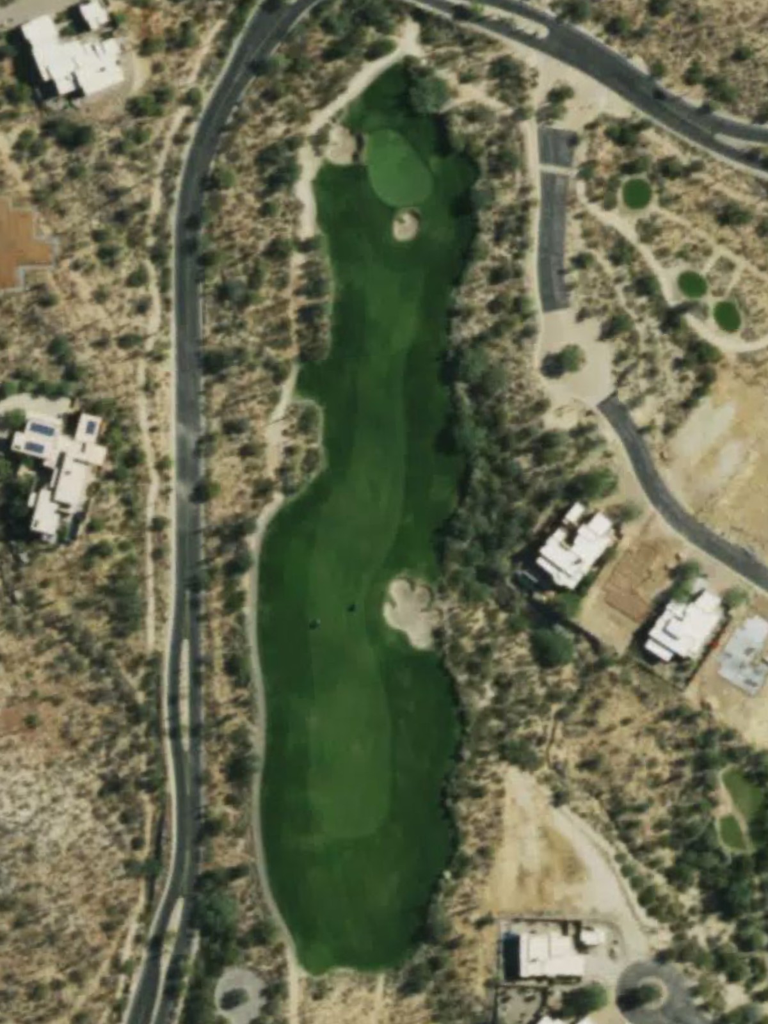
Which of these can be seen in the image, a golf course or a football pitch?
golf course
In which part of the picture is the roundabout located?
bottom right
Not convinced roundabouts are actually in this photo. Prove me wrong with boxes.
[615,959,713,1024]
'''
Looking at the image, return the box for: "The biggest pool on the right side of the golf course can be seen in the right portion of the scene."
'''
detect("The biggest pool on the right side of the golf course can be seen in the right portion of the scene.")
[502,929,519,981]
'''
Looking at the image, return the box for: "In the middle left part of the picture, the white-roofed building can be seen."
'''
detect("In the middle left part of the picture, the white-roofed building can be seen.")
[10,412,108,543]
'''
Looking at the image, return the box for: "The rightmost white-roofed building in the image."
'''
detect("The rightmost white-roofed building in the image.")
[645,587,730,662]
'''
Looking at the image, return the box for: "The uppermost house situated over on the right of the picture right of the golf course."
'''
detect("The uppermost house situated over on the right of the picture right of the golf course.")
[536,502,618,592]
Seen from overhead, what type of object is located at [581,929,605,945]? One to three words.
house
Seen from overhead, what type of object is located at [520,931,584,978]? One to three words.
house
